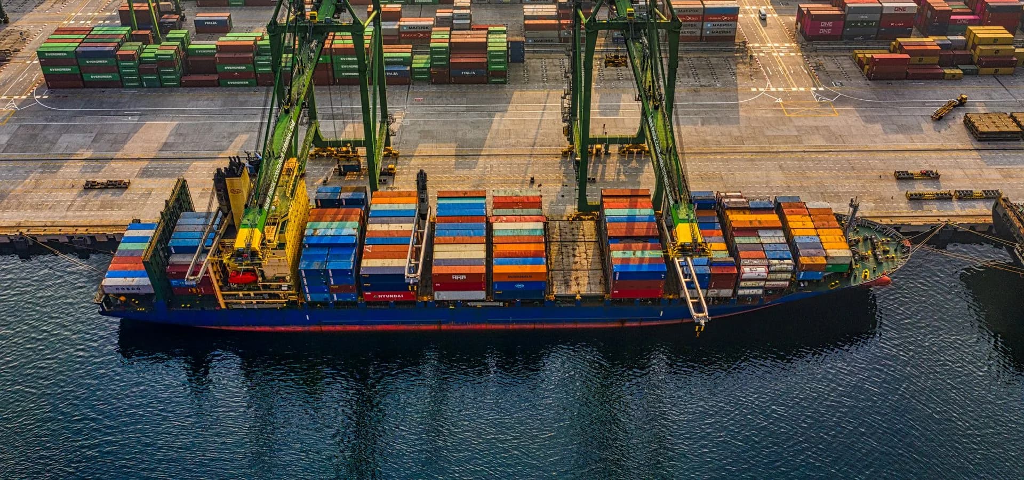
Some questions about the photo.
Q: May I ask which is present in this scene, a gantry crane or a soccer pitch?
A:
gantry crane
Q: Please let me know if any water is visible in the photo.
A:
Yes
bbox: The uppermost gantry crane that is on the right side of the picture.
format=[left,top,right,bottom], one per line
[560,0,732,257]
